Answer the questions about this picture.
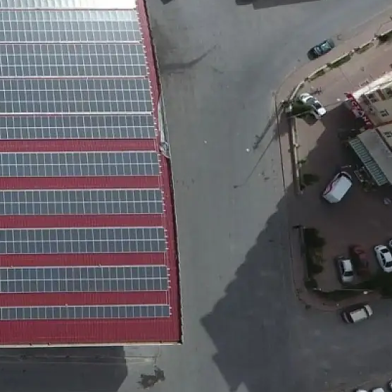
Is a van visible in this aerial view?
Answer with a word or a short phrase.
Yes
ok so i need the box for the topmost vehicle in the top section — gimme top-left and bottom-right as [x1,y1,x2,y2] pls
[304,38,336,60]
